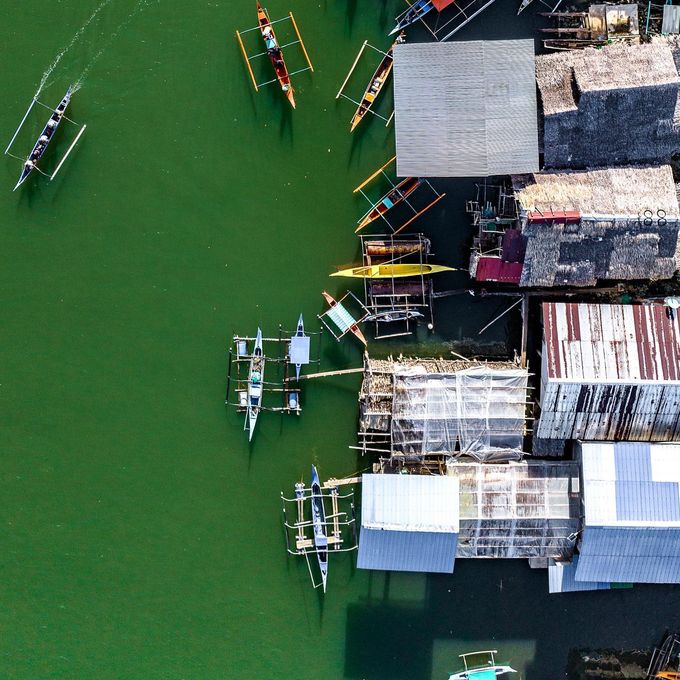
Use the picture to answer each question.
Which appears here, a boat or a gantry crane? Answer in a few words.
boat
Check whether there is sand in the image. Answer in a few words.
No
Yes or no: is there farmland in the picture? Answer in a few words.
No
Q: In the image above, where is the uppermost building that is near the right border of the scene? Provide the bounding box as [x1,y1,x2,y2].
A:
[536,31,680,173]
